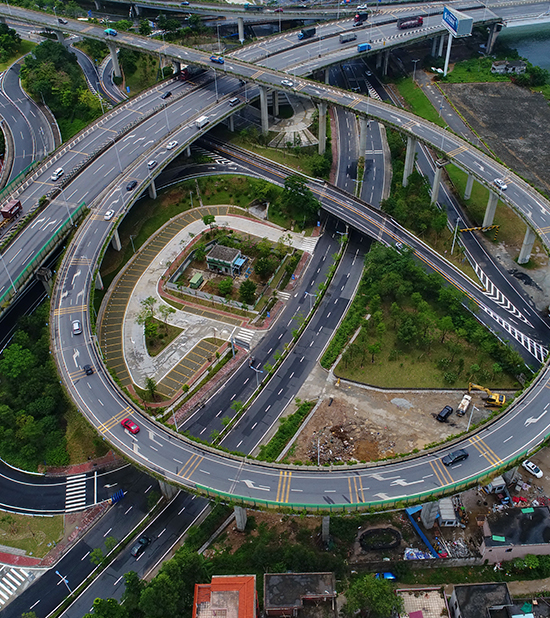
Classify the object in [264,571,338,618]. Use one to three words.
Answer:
house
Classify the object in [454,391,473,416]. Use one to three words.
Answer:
vehicle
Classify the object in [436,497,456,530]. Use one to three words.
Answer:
shed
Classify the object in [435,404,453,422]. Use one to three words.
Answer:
car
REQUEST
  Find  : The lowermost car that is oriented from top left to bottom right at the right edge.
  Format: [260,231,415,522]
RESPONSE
[520,460,545,477]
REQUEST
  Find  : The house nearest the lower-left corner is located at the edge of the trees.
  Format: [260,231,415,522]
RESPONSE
[192,574,258,618]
